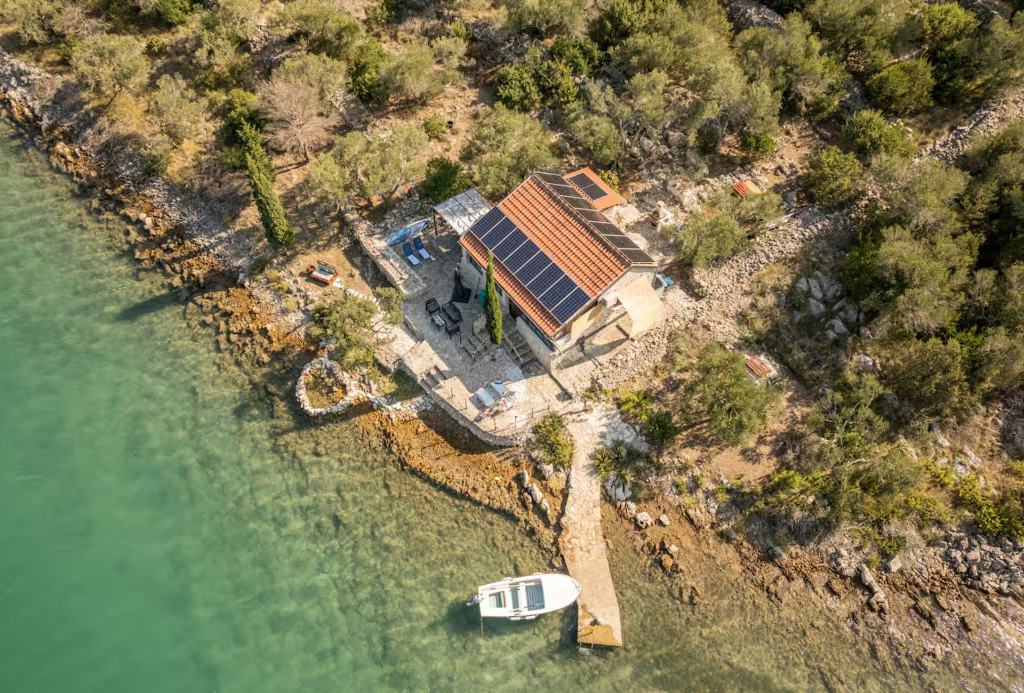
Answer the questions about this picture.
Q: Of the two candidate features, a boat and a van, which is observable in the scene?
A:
boat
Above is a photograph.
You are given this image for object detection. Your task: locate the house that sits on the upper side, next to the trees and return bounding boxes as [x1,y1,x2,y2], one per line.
[457,165,657,370]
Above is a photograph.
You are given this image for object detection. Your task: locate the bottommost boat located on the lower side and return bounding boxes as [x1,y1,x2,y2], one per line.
[478,568,582,626]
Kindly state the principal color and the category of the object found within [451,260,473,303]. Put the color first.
black umbrella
